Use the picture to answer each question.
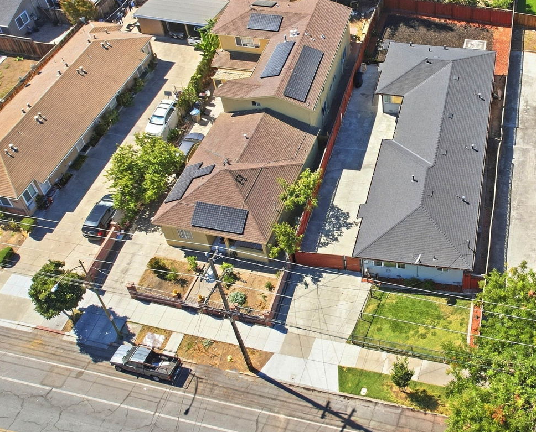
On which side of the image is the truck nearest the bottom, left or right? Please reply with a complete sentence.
The truck nearest the bottom appears in the left half of the scene.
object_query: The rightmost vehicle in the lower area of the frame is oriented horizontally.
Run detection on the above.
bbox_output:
[109,340,185,385]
